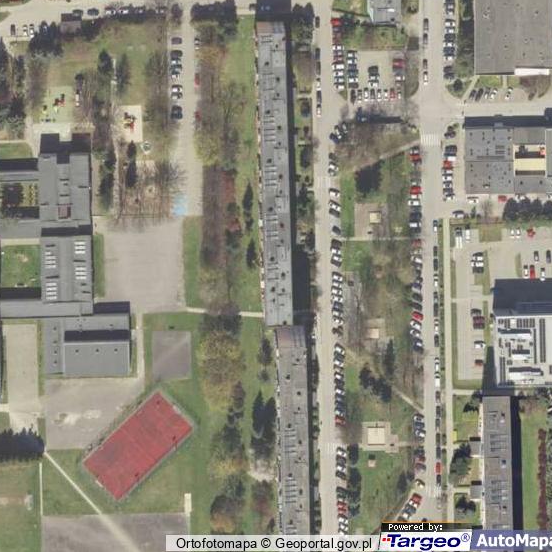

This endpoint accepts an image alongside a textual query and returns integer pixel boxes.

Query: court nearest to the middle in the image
[152,328,191,380]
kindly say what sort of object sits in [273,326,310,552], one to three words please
building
